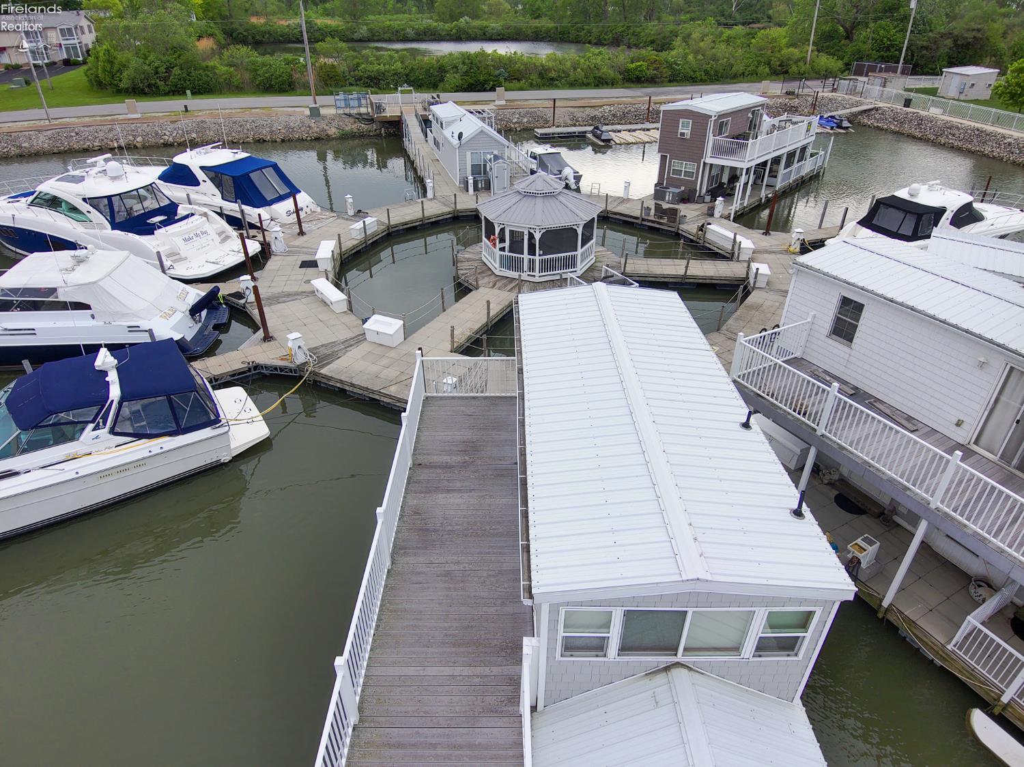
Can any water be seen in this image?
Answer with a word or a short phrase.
Yes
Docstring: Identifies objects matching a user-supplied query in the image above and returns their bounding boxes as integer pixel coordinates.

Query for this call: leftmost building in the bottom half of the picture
[324,270,857,767]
